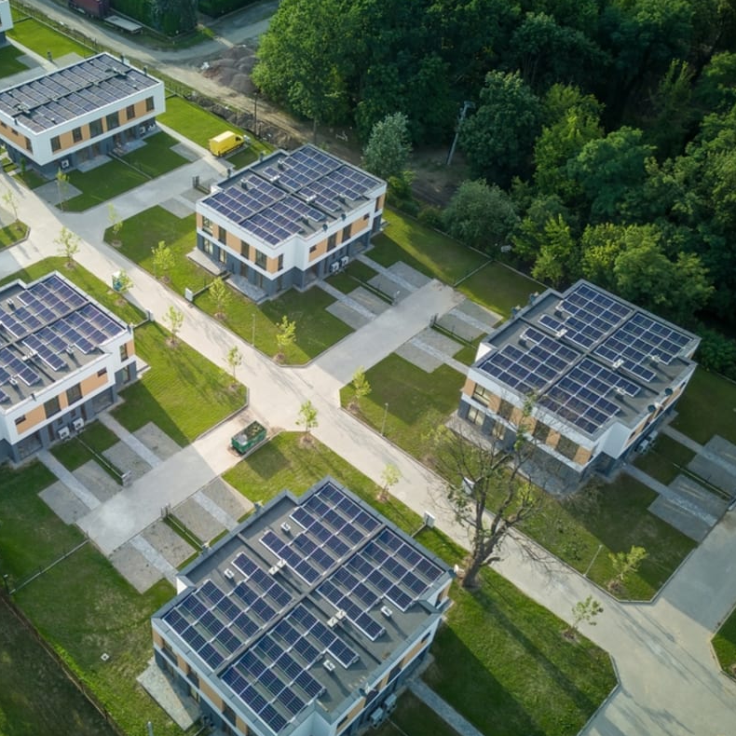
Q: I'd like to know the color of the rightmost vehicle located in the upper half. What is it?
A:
yellow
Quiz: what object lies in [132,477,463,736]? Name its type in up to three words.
house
